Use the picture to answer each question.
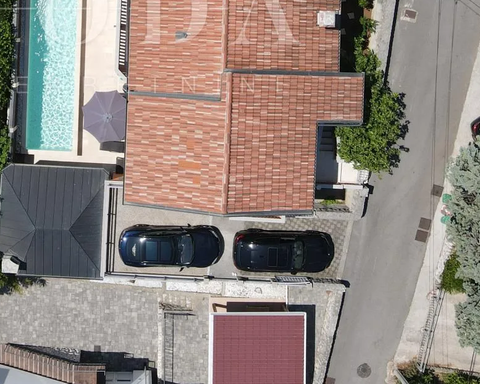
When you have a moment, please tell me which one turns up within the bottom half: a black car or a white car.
black car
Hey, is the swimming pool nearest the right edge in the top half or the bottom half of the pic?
top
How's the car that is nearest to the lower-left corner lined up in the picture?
horizontally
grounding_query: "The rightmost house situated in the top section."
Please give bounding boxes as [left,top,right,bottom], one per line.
[117,0,366,217]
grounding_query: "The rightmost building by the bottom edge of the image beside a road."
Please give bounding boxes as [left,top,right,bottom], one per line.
[209,298,307,384]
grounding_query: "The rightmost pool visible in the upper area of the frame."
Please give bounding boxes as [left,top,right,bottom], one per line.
[26,0,82,157]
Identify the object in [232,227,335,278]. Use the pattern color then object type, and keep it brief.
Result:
black car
